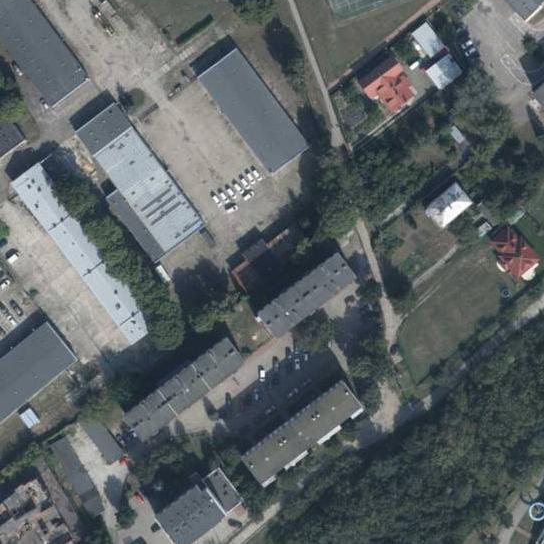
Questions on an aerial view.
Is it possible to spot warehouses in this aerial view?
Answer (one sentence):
Yes, there is a warehouse in the image.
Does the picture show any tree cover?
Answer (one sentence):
Yes, tree cover shows up in the scene.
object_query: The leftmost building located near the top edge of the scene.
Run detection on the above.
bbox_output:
[0,0,91,106]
